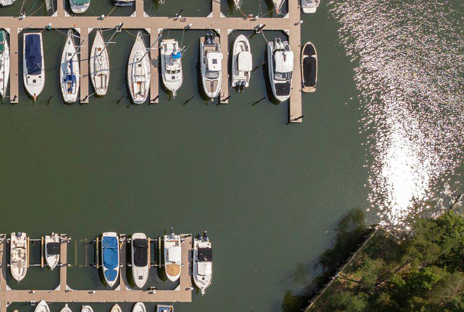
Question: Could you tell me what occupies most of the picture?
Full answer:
The largest share of the image is taken up by water.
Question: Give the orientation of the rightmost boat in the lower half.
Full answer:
I'd say the rightmost boat in the lower half is aligned from top to bottom in the picture.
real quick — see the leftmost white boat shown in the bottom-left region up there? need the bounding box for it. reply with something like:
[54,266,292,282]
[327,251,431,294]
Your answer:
[11,229,28,284]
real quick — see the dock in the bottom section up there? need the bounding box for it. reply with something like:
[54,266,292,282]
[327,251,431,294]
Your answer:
[0,234,192,312]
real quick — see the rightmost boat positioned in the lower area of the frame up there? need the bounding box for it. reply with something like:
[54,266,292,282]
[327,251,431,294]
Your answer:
[192,230,213,295]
